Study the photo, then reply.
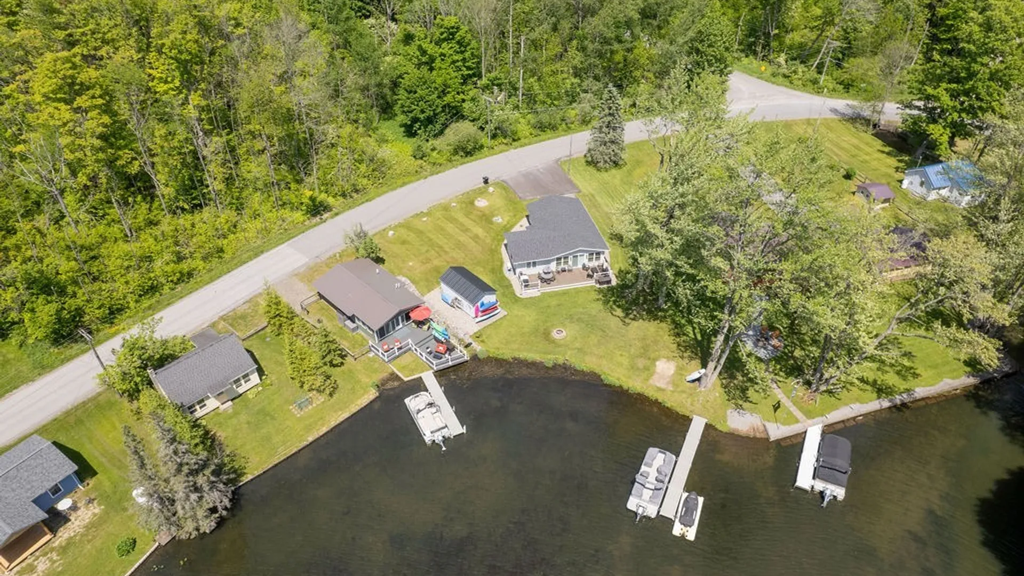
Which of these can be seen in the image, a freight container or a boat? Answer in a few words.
boat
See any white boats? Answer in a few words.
Yes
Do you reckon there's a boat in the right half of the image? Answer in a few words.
Yes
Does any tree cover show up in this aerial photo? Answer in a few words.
Yes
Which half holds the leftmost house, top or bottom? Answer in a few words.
bottom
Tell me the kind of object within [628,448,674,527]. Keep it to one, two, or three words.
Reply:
boat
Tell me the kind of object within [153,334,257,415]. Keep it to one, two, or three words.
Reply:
house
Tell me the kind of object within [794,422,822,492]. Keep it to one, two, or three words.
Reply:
pier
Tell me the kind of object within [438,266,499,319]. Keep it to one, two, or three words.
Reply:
shed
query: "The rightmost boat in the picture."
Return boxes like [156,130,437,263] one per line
[814,433,852,511]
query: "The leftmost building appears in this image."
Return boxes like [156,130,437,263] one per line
[0,433,90,576]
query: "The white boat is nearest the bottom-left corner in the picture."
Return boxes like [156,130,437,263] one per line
[408,391,451,454]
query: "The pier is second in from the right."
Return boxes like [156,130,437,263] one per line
[659,415,707,521]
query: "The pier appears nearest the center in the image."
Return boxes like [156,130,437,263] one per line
[421,370,466,438]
